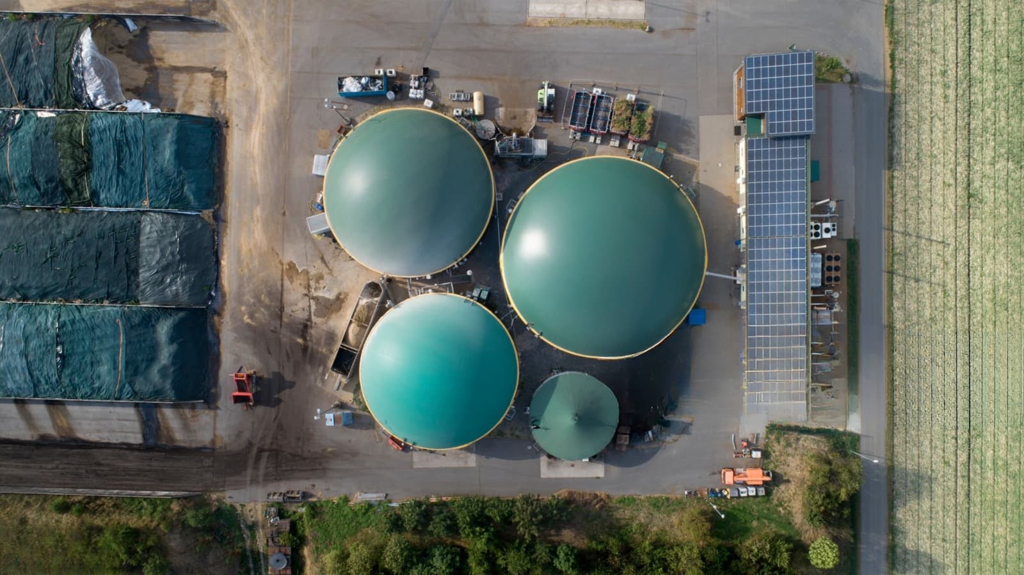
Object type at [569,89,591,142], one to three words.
trailer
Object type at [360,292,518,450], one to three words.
storage tank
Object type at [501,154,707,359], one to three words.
storage tank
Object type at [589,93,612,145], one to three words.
trailer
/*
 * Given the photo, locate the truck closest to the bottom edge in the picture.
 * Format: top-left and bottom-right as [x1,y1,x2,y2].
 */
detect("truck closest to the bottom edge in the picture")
[716,464,772,485]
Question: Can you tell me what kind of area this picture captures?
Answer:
industrial area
